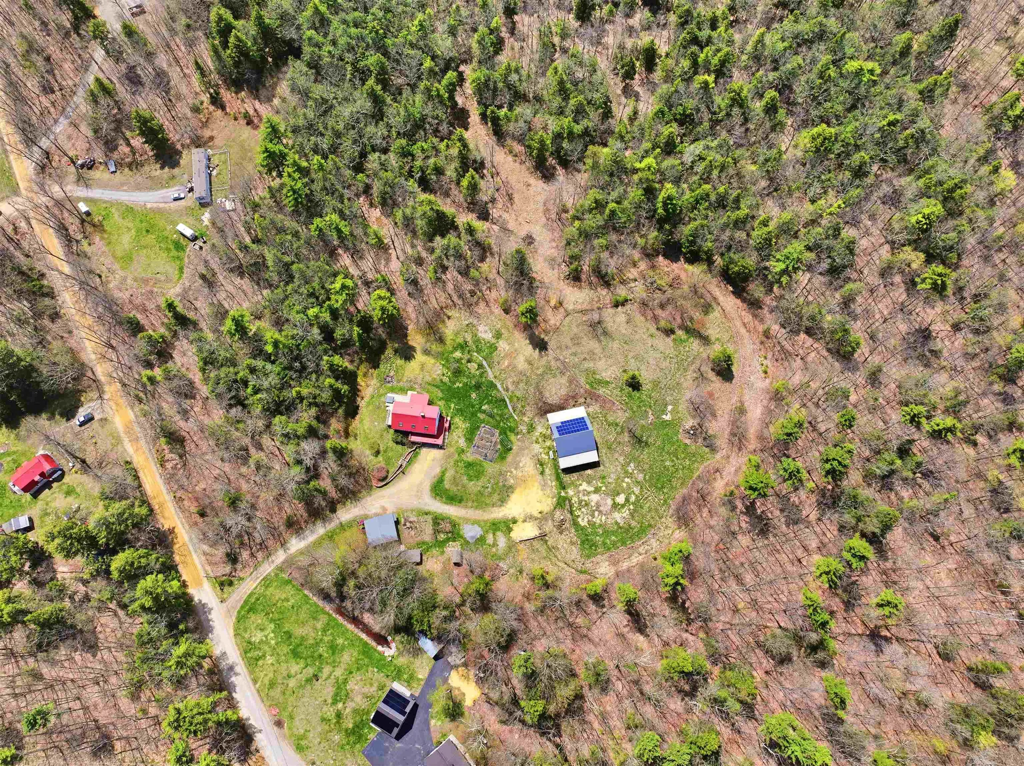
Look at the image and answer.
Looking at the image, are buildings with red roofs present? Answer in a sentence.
Yes, I can see a building with a red roof in this picture.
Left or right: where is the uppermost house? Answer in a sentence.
The uppermost house appears in the left half of the scene.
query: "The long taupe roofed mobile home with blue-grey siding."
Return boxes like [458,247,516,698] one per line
[192,150,216,204]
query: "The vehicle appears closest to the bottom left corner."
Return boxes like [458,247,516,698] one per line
[74,412,94,425]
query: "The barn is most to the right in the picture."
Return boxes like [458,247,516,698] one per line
[548,406,599,469]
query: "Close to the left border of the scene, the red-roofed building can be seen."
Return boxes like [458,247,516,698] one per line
[10,449,61,499]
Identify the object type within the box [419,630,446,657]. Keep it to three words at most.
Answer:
shed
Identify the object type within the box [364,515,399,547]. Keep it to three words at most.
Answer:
shed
